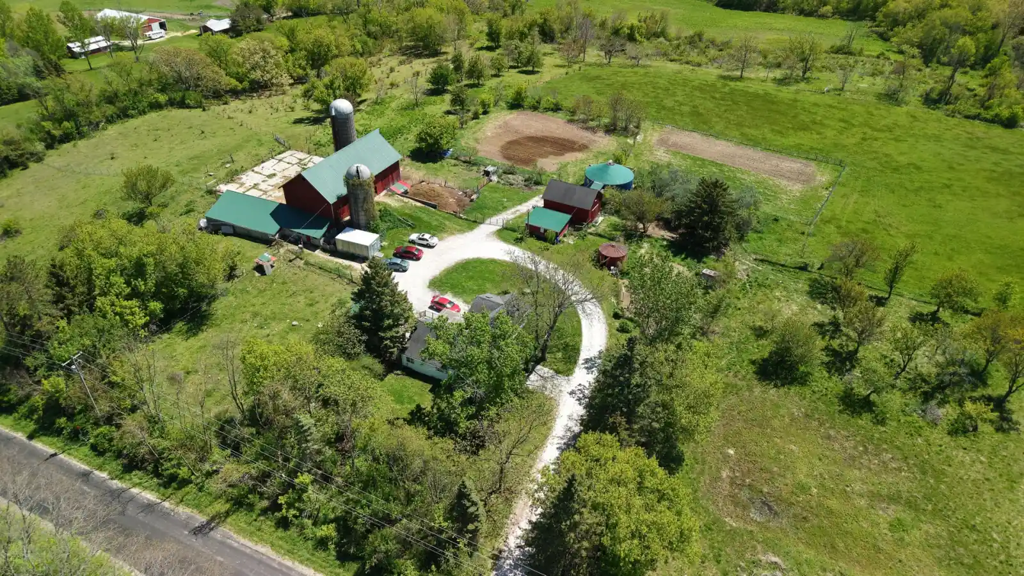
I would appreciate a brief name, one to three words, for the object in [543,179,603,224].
building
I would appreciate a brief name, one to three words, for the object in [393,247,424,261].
car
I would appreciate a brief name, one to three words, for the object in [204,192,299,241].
shed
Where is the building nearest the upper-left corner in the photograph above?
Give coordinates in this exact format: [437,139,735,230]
[73,40,112,61]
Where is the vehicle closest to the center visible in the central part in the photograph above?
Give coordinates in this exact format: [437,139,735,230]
[427,294,458,310]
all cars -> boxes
[427,294,458,310]
[409,234,438,248]
[385,258,411,272]
[393,247,424,261]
